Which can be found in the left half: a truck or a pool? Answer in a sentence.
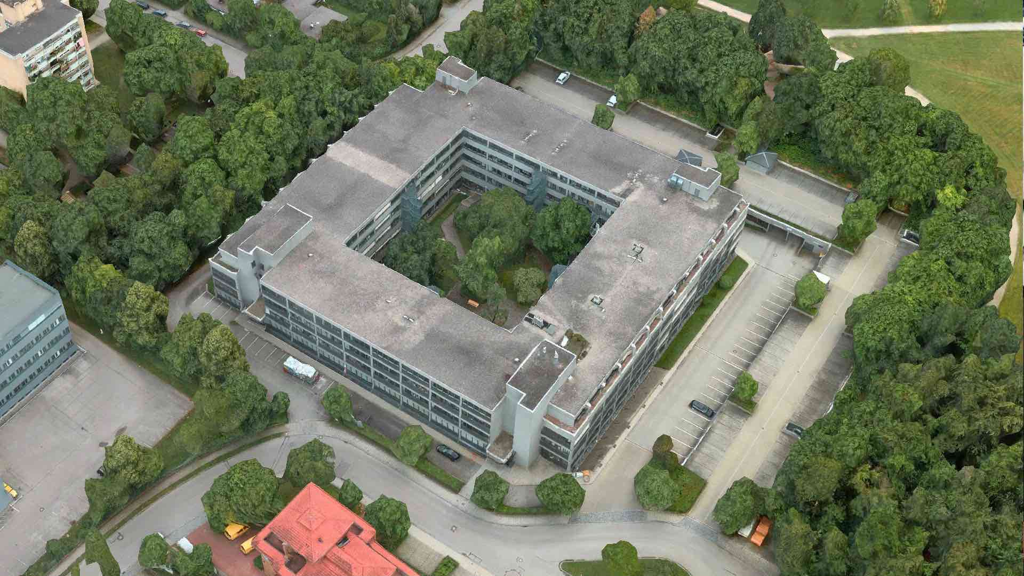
What appears in the left half is a truck.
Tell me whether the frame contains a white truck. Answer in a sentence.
Yes, there's a white truck here.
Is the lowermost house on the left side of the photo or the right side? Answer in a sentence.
It is on the left.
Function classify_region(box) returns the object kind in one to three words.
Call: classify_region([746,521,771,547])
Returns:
truck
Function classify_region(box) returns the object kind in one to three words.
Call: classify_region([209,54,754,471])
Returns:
building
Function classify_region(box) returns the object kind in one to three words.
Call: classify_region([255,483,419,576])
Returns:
house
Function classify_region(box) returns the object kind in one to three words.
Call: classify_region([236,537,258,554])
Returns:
car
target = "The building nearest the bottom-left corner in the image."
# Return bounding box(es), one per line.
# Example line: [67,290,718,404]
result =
[0,269,77,422]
